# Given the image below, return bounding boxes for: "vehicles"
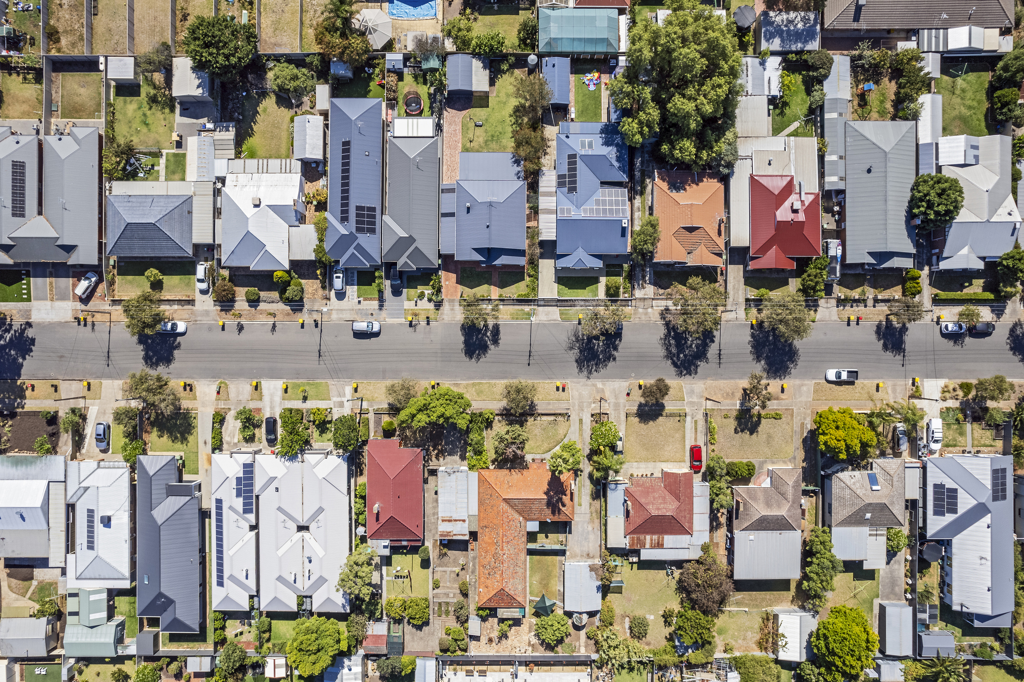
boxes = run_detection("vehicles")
[611,432,625,457]
[194,263,210,291]
[968,321,996,334]
[927,418,945,451]
[155,320,188,334]
[825,368,860,382]
[73,271,100,300]
[825,238,842,283]
[389,264,403,292]
[939,321,965,334]
[689,445,704,471]
[352,320,382,334]
[264,417,278,447]
[331,264,346,292]
[893,423,908,453]
[94,421,111,449]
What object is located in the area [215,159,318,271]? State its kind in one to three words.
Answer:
house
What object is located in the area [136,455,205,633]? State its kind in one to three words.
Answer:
house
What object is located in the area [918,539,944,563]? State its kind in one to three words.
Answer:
gazebo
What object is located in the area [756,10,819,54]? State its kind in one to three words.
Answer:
shed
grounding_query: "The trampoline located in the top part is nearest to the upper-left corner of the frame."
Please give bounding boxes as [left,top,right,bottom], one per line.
[402,88,422,110]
